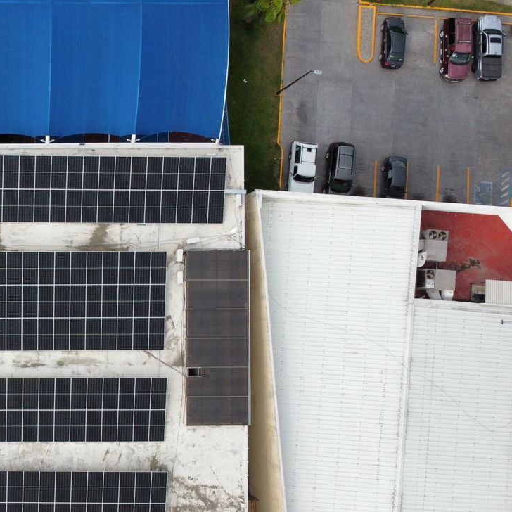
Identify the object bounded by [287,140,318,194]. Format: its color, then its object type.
white car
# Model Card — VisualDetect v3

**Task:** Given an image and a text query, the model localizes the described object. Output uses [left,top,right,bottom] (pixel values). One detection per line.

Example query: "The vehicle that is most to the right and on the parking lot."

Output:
[471,14,507,82]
